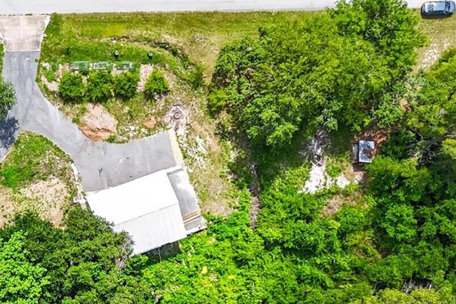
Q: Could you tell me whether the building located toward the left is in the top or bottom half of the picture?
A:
bottom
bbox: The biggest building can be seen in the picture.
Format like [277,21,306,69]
[86,168,187,252]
